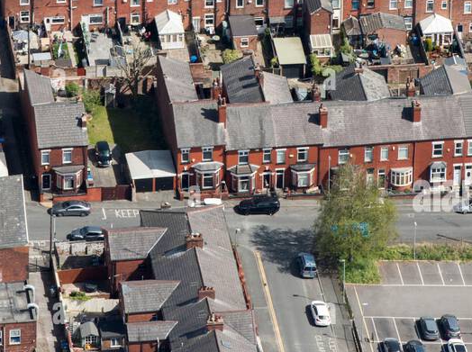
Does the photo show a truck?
No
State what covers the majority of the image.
buildings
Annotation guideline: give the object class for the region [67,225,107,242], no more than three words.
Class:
car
